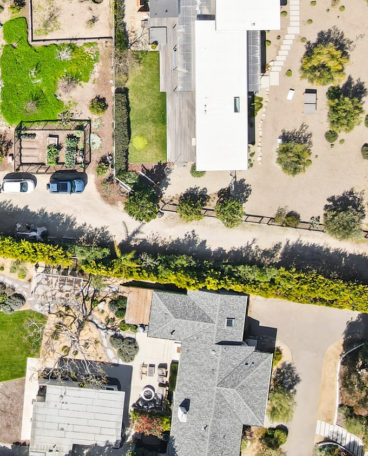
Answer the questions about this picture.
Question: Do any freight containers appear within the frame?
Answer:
No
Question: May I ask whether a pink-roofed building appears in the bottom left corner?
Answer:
No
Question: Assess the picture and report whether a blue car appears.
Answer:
Yes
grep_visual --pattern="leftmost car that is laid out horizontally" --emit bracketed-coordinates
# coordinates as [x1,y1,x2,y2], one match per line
[1,177,35,195]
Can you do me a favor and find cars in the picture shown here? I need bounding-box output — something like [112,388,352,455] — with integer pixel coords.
[1,177,35,195]
[48,178,83,196]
